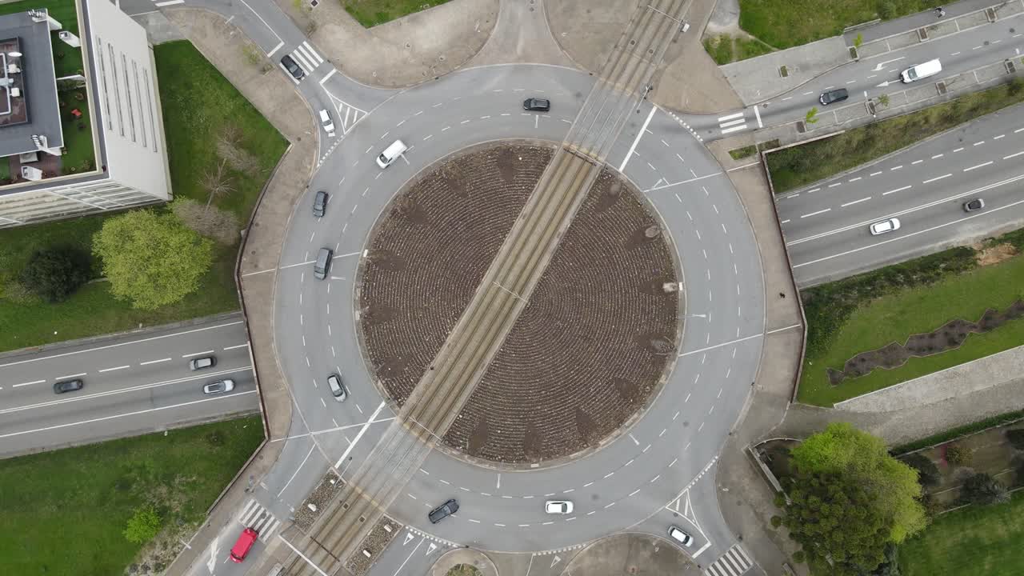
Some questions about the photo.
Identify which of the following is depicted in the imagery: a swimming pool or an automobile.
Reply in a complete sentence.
This aerial view contains an automobile.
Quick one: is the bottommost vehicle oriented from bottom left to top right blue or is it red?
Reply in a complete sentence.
The bottommost vehicle oriented from bottom left to top right is red.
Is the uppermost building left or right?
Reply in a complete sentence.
It is on the left.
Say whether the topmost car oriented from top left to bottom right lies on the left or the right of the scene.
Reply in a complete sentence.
You can find the topmost car oriented from top left to bottom right on the left side of the picture.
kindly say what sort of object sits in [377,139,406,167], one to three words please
vehicle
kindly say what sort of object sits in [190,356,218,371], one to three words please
car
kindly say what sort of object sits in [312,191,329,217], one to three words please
car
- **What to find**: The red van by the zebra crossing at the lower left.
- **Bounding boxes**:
[231,528,258,560]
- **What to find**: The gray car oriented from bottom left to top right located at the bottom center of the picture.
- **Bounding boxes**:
[428,499,458,524]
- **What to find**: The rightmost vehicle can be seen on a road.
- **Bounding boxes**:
[961,197,984,212]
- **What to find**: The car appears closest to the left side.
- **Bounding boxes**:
[54,378,85,394]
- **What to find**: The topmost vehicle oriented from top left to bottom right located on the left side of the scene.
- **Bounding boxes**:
[280,54,305,80]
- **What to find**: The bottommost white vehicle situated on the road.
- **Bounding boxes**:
[667,524,693,546]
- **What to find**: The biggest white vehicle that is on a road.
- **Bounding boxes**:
[900,57,946,83]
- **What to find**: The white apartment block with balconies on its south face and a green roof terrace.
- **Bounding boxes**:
[0,0,171,231]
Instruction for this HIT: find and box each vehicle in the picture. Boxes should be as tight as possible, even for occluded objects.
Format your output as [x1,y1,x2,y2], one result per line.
[961,197,984,212]
[319,109,336,134]
[204,379,235,394]
[545,500,573,514]
[523,97,550,112]
[900,57,946,83]
[280,54,305,80]
[326,374,347,401]
[667,524,693,546]
[231,528,258,560]
[868,218,899,235]
[190,356,218,371]
[312,191,329,217]
[377,139,406,167]
[818,88,849,105]
[428,499,458,524]
[54,378,85,394]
